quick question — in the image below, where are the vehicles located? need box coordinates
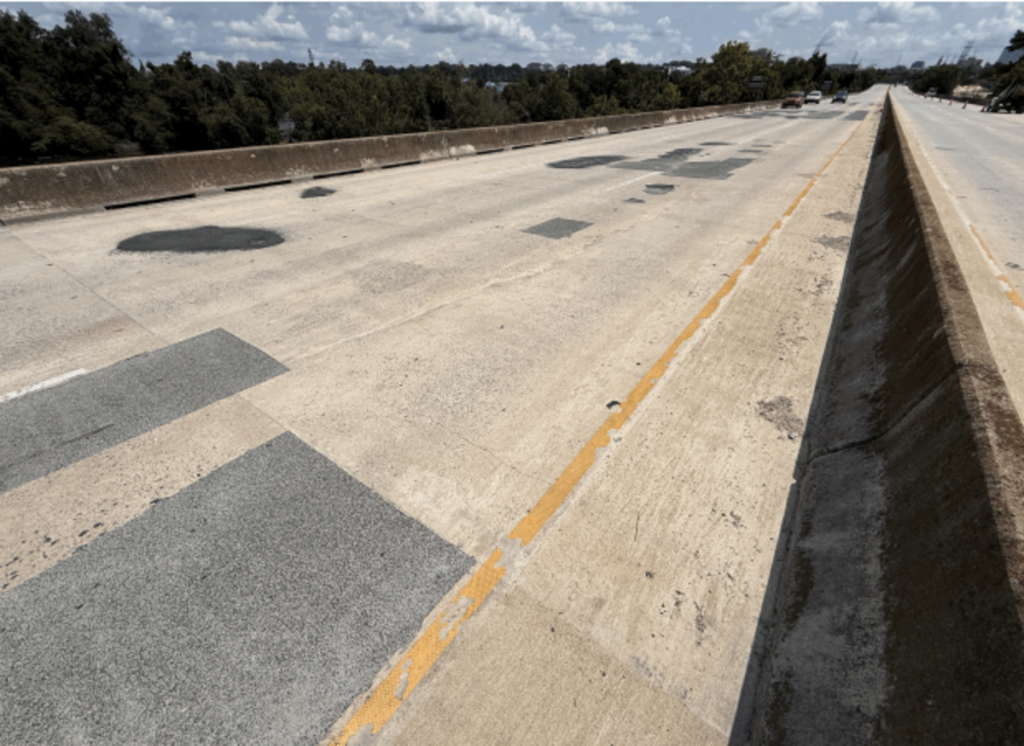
[923,88,937,96]
[833,90,850,102]
[807,90,824,102]
[784,89,808,107]
[984,70,1024,112]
